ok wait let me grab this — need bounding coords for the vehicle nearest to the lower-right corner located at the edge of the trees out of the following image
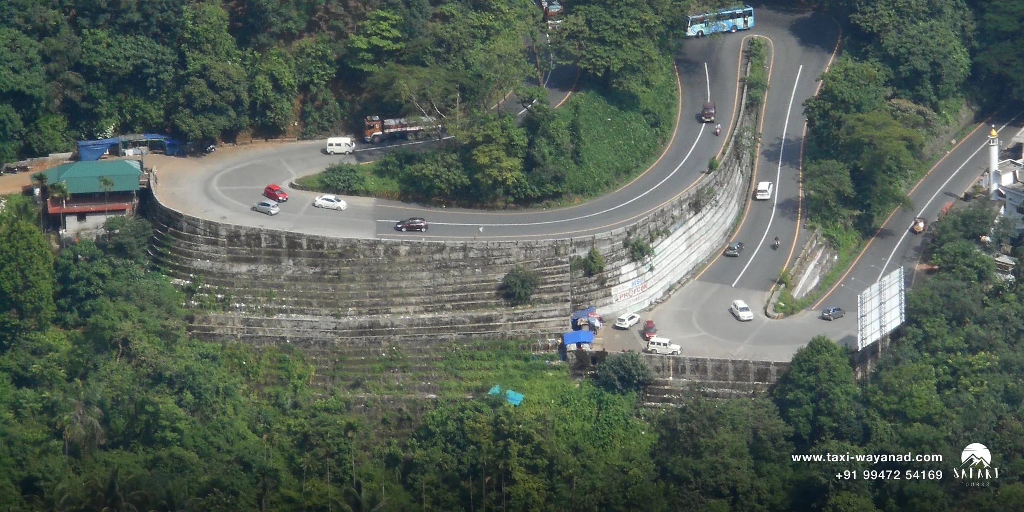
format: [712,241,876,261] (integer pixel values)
[817,302,849,321]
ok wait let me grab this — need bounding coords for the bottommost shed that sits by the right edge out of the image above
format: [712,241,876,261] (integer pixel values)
[994,252,1024,280]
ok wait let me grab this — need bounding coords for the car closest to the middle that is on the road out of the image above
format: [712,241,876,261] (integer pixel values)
[395,213,430,232]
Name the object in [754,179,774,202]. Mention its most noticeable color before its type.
white car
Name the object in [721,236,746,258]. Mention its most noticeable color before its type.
gray car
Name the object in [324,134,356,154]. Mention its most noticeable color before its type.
white vehicle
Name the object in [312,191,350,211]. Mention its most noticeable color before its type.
white car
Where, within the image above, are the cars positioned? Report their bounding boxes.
[817,302,849,321]
[730,291,757,322]
[644,332,684,355]
[700,97,717,121]
[395,213,430,232]
[611,309,644,332]
[641,314,659,339]
[312,191,350,211]
[721,236,746,258]
[754,179,774,202]
[260,179,292,202]
[249,196,283,215]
